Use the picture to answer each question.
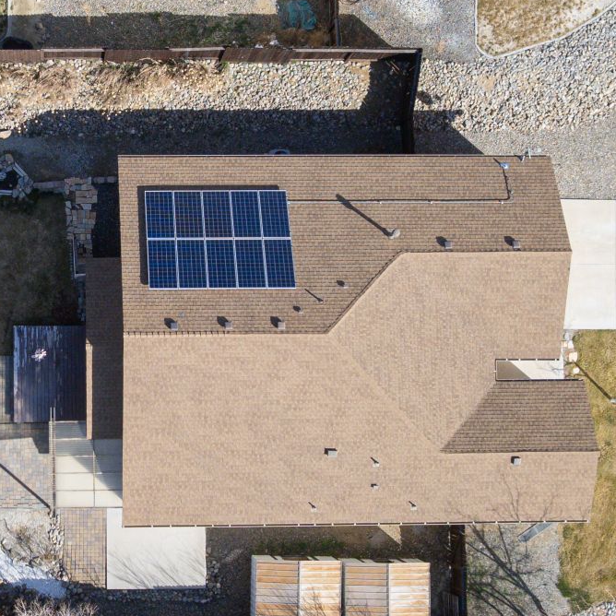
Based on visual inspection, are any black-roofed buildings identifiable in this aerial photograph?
No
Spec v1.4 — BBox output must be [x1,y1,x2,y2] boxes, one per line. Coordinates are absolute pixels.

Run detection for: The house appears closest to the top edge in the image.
[84,153,600,531]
